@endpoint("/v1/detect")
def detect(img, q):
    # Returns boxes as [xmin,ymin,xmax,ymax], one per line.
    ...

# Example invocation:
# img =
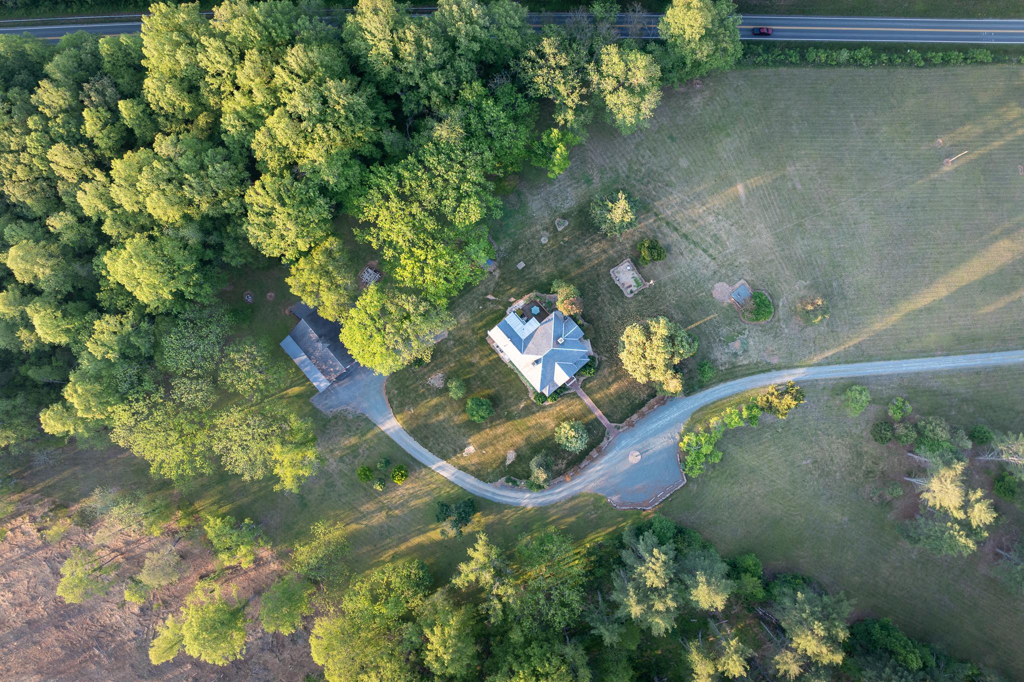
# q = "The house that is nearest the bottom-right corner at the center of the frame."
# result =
[488,312,590,396]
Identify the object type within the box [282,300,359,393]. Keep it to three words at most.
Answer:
building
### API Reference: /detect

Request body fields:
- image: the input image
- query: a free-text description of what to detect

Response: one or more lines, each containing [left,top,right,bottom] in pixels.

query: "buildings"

[488,312,590,396]
[282,300,359,393]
